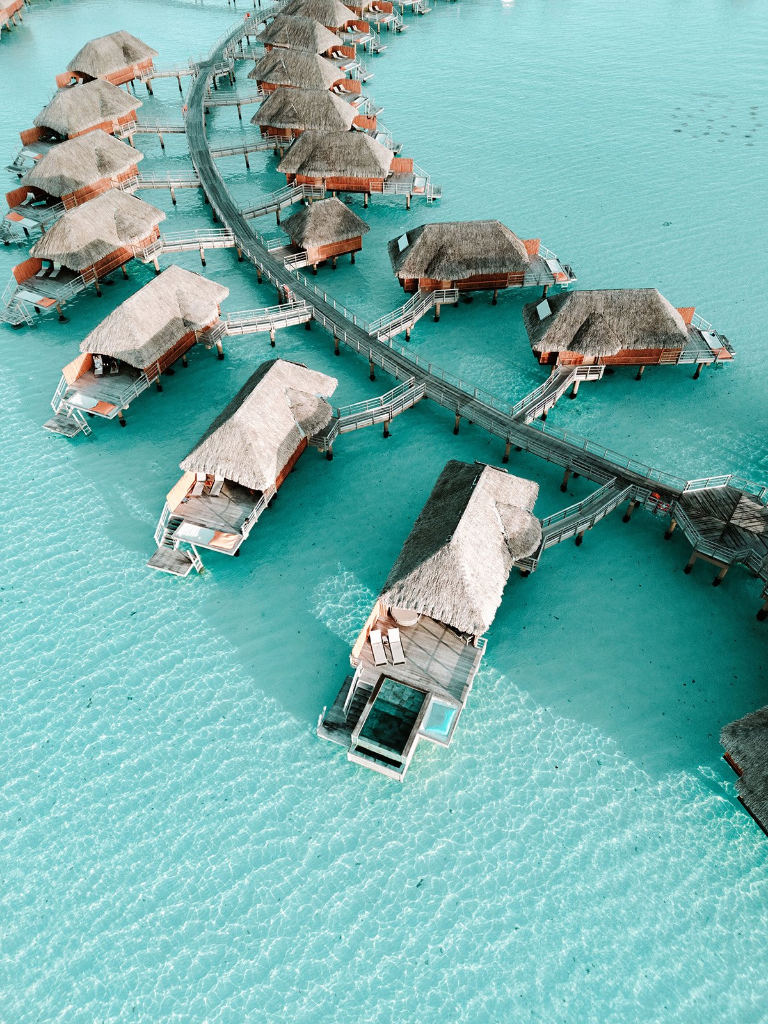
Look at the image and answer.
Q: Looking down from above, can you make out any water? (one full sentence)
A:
Yes, water can be seen from above here.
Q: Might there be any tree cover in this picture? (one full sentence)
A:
No, there's no tree cover in this view.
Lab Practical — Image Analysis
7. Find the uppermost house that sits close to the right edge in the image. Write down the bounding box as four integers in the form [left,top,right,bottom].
[519,289,731,399]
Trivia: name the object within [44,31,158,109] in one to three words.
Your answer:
house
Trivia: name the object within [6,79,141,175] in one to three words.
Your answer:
house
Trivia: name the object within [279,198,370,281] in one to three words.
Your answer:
shed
